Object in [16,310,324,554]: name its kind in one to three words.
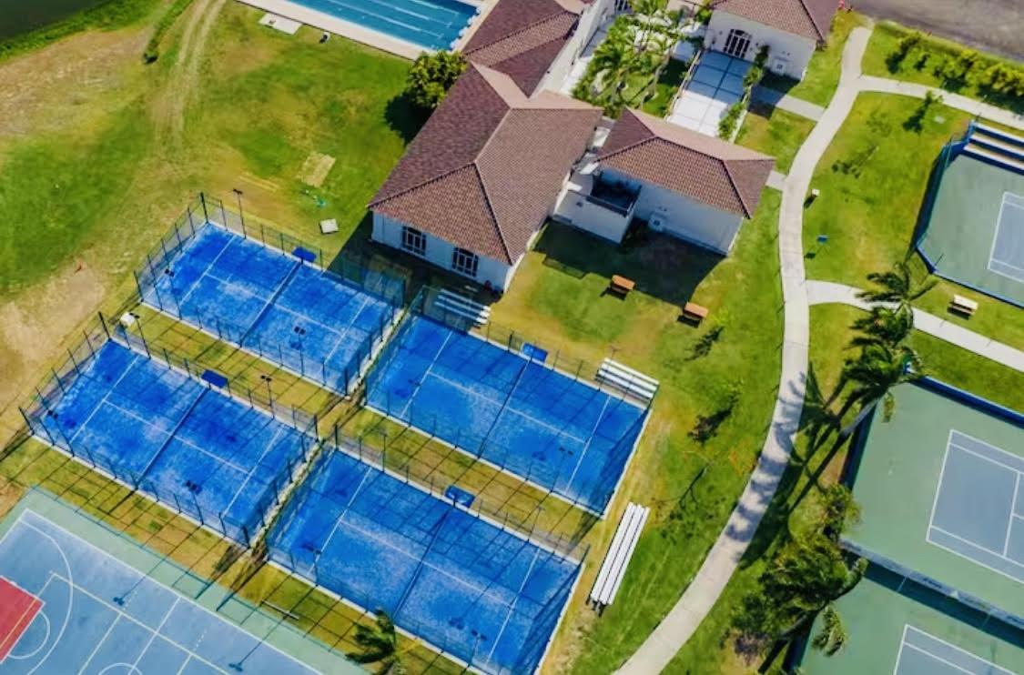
sports court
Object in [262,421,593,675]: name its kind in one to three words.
sports court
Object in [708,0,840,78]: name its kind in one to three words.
house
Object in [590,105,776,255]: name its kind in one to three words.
house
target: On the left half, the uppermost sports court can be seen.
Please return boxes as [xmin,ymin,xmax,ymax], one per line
[132,191,409,401]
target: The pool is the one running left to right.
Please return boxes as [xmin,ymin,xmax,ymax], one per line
[245,0,501,66]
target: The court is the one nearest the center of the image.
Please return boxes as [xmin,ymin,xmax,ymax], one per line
[359,284,661,522]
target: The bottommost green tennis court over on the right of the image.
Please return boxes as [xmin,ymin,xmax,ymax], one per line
[797,537,1024,675]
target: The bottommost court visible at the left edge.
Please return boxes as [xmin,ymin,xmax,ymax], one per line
[0,492,365,675]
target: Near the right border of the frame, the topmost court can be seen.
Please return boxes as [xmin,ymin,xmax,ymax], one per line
[917,109,1024,307]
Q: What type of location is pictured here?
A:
sports ground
